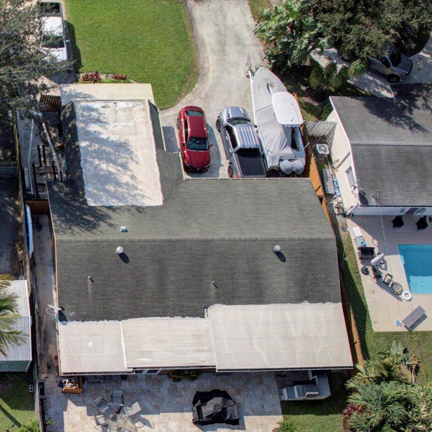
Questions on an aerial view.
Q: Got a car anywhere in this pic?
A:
Yes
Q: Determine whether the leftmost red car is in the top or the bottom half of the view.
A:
top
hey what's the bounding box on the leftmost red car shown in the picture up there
[176,106,219,171]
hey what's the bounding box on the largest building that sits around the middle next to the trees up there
[46,84,354,384]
